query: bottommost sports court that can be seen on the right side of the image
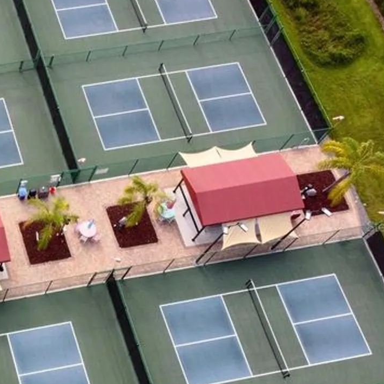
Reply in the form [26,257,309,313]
[115,236,384,384]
